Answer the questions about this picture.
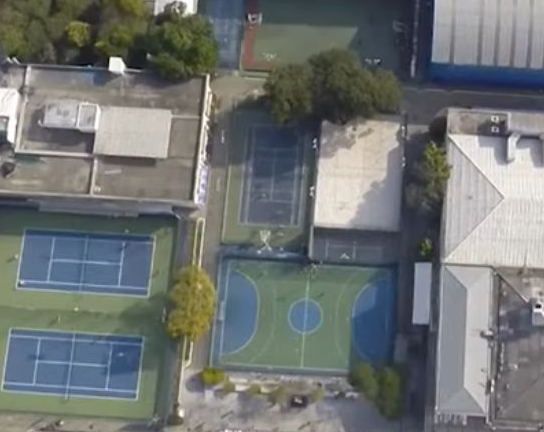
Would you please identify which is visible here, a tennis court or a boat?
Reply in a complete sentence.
Visible in the photo is a tennis court.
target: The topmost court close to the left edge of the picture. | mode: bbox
[0,210,179,316]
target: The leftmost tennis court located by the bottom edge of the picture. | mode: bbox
[0,307,172,421]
